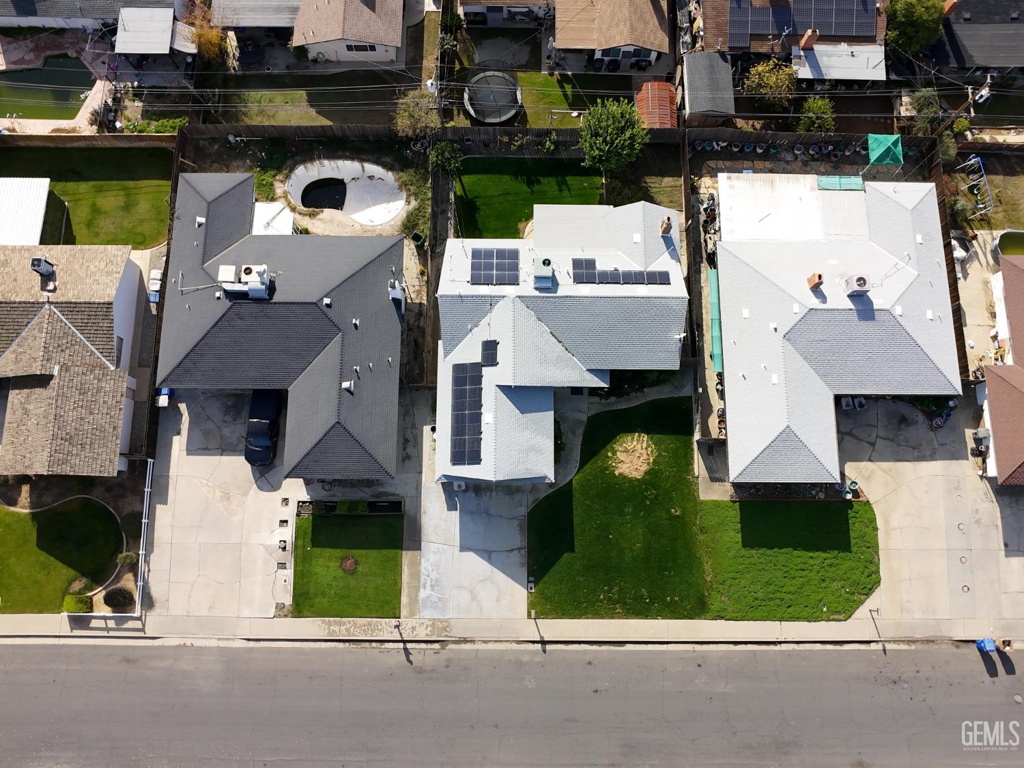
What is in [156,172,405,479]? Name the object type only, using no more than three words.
house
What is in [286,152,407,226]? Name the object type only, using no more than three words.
swimming pool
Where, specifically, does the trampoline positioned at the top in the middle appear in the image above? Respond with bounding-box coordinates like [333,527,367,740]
[465,61,520,125]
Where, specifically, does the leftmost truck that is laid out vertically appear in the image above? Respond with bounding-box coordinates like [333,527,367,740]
[238,389,280,473]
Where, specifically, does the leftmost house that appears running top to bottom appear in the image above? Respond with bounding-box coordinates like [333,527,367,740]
[0,178,139,477]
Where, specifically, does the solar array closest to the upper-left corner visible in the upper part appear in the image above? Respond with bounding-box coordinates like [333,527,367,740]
[470,248,520,283]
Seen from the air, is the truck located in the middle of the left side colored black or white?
black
